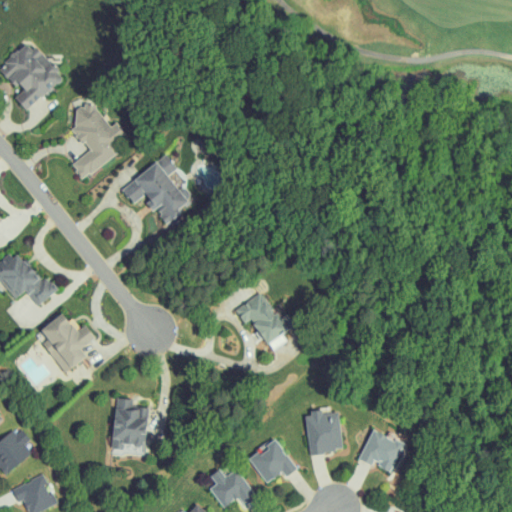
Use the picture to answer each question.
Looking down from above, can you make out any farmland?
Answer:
No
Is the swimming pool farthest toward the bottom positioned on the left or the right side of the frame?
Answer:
left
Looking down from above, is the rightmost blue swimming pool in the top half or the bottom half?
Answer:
top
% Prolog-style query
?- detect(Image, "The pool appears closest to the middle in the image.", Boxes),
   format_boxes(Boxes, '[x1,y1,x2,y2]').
[200,162,220,190]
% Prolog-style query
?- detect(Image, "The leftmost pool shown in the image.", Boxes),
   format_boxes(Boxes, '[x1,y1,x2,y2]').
[20,358,50,385]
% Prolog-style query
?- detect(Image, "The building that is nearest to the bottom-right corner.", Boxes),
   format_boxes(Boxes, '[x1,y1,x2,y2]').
[358,429,408,475]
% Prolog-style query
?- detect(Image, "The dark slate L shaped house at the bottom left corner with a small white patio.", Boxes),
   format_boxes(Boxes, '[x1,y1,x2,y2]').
[8,474,57,512]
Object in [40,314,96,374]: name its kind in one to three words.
house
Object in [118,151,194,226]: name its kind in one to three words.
house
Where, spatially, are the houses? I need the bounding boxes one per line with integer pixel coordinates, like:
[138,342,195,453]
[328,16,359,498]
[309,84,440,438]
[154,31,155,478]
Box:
[72,99,124,179]
[210,469,254,508]
[249,440,298,482]
[118,151,194,226]
[8,474,57,512]
[358,429,408,475]
[40,314,96,374]
[0,428,34,481]
[233,292,290,343]
[306,410,344,457]
[0,252,58,308]
[2,42,65,110]
[110,398,150,450]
